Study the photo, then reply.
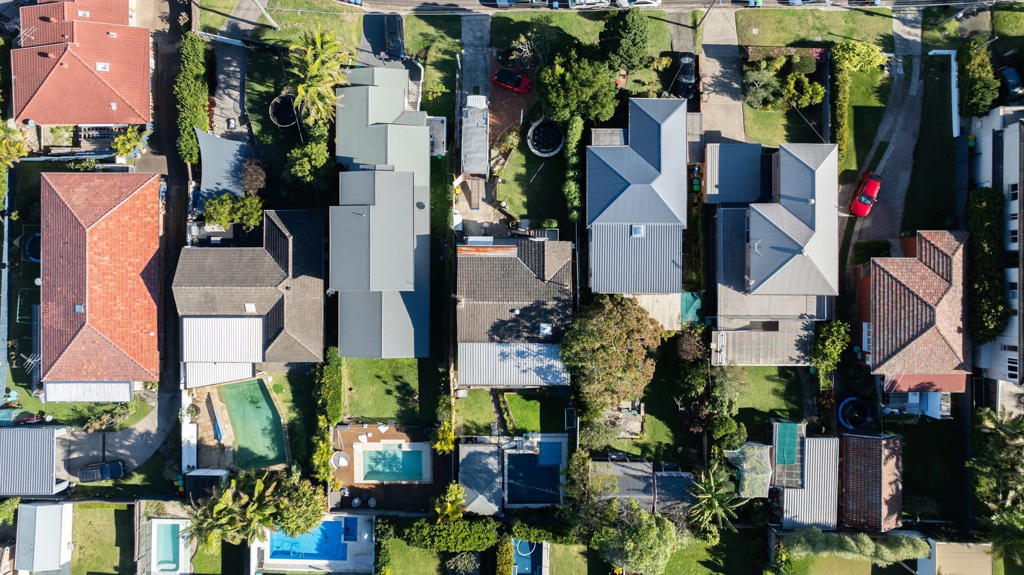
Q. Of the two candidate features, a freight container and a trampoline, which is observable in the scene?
trampoline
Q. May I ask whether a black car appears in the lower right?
No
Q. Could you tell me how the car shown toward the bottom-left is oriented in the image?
from side to side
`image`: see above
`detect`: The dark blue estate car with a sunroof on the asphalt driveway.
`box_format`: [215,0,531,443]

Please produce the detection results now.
[382,12,405,63]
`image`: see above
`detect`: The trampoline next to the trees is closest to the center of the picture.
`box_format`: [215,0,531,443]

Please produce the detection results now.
[527,121,564,158]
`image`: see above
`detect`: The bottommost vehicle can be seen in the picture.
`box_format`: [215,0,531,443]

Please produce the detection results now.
[74,458,129,484]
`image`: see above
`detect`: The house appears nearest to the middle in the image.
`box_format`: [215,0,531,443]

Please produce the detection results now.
[446,228,572,387]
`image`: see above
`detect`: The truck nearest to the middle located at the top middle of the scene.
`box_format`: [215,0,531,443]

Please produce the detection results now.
[461,94,491,177]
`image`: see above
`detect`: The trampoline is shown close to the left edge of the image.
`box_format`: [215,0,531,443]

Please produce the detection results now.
[14,232,40,263]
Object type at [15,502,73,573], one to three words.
shed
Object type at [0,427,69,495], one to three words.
building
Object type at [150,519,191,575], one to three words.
swimming pool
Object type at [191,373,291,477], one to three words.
swimming pool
